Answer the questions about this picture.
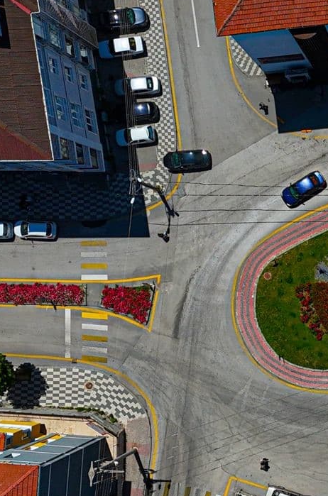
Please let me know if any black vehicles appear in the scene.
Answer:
Yes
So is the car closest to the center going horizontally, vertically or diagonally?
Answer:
horizontally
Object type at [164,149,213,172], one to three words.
car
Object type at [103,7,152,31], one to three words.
car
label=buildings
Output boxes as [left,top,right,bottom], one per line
[214,0,328,70]
[0,416,106,496]
[0,0,105,169]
